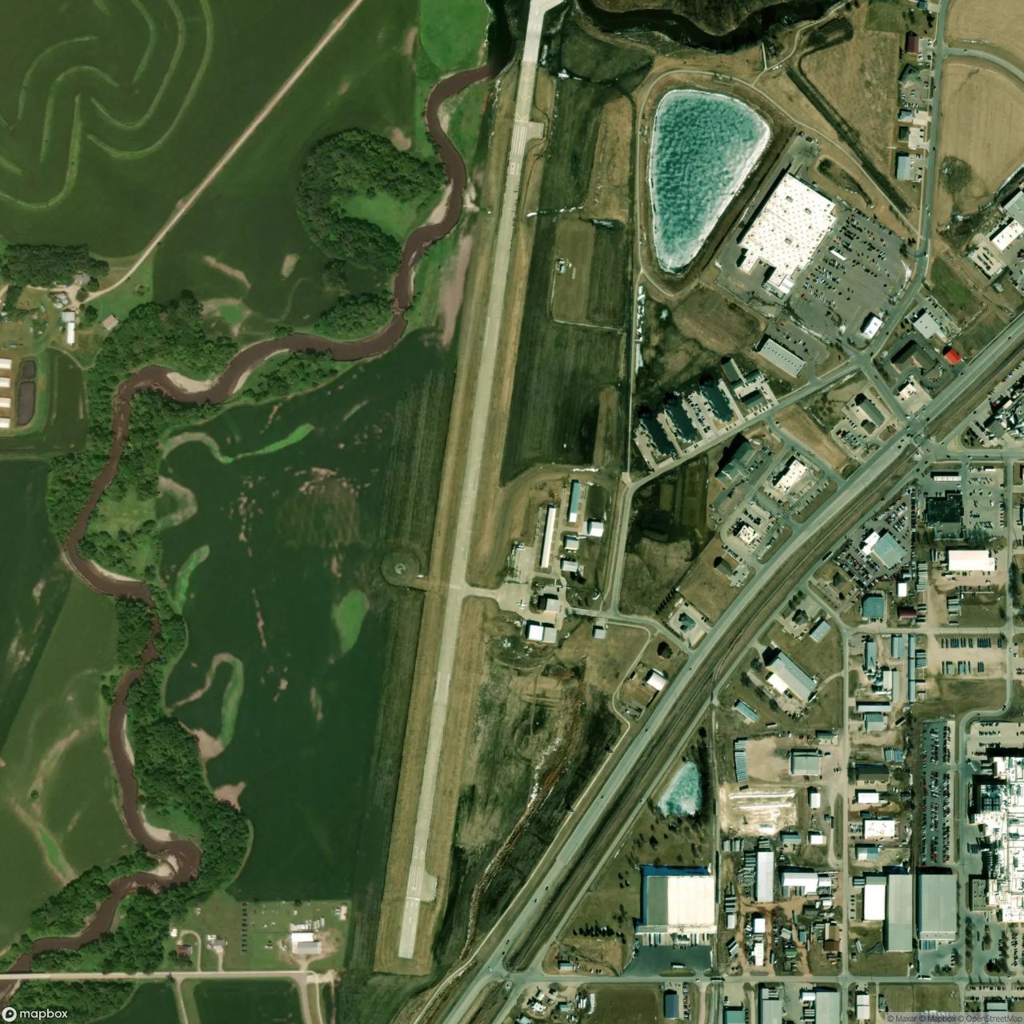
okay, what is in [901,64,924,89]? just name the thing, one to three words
house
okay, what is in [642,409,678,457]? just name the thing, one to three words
building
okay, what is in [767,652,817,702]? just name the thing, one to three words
building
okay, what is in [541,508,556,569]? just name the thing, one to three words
hangar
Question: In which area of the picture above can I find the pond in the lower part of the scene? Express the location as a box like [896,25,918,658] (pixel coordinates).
[657,760,702,816]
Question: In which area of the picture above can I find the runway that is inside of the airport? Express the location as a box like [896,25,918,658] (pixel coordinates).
[399,0,546,959]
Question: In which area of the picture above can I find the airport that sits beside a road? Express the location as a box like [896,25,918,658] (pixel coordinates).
[399,0,606,959]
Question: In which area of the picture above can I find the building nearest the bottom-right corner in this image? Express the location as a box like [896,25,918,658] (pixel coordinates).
[986,1002,1008,1021]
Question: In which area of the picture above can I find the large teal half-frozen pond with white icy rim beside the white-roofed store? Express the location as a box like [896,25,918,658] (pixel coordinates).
[649,89,770,273]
